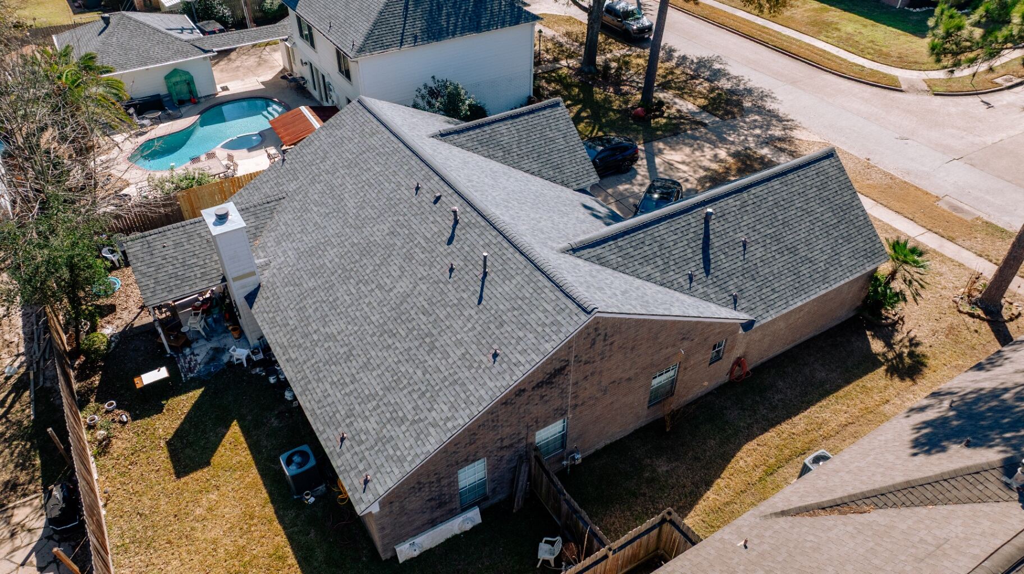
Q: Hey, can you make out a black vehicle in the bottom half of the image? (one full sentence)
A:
No, I see no black vehicle in the bottom half of the image.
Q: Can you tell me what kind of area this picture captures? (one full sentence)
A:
This image shows a residential area.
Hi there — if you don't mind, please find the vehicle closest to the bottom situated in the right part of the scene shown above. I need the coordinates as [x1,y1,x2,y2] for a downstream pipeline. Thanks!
[616,172,683,224]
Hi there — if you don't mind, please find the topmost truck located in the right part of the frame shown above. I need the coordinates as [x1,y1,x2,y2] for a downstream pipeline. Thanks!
[602,0,650,41]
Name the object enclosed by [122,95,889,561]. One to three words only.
house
